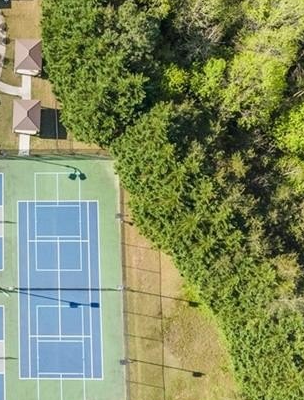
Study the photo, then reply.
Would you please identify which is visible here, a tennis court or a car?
tennis court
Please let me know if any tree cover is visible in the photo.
Yes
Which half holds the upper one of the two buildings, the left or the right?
left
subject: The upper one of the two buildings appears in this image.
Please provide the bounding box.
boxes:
[15,41,41,78]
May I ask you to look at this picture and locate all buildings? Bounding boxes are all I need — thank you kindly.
[15,41,41,78]
[13,100,40,134]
